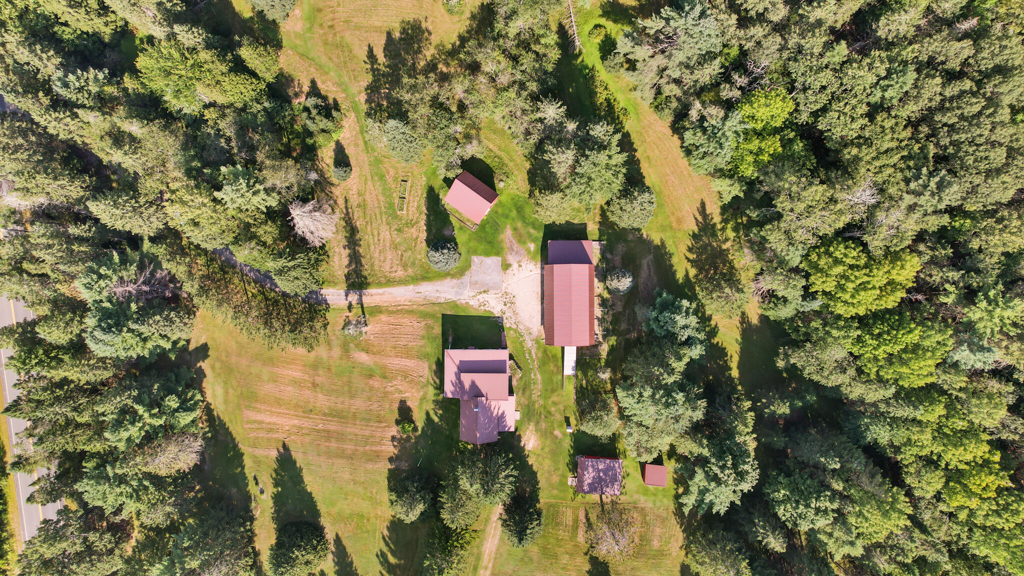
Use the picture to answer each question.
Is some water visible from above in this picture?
No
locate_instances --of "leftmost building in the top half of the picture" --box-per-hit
[444,170,499,225]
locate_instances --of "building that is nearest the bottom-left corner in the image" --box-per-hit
[440,346,520,445]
